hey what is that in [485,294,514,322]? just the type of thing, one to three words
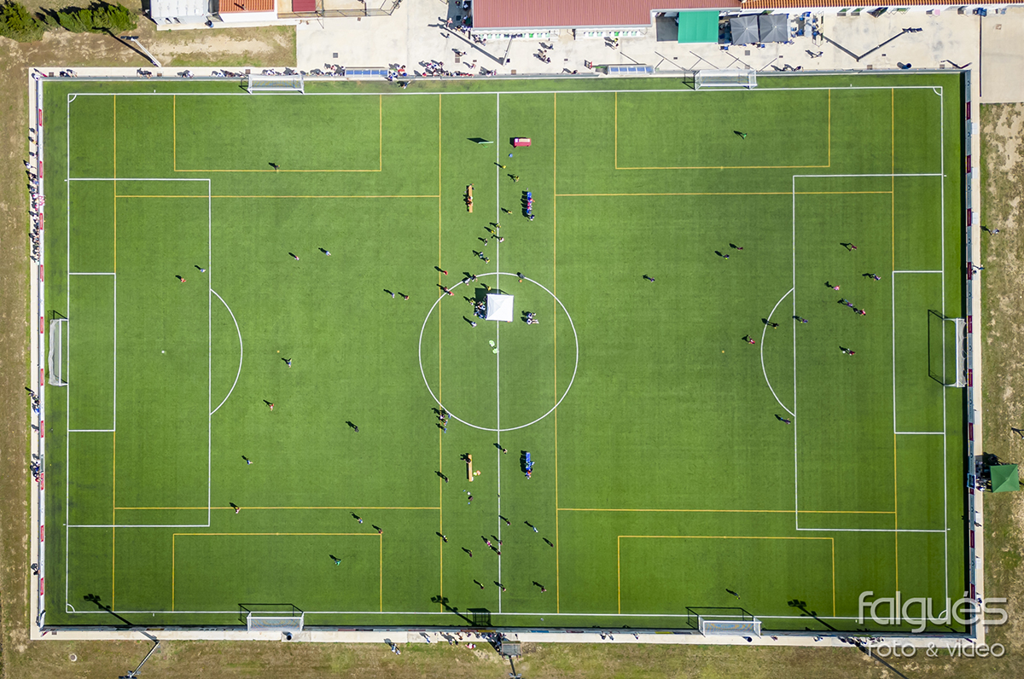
tent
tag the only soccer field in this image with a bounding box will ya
[43,73,971,633]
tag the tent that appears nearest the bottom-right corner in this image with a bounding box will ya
[980,461,1020,492]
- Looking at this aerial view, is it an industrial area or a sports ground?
sports ground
